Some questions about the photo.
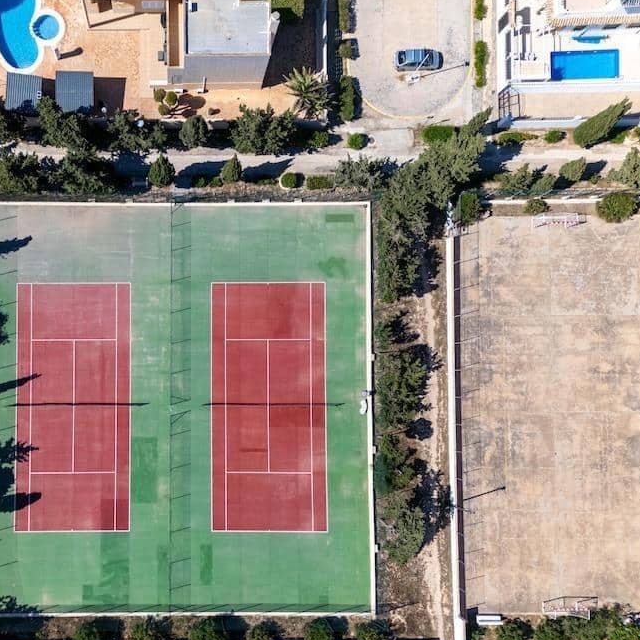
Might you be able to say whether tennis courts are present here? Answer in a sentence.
Yes, the frame does contain a tennis court.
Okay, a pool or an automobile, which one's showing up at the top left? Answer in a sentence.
There is a pool at the top left.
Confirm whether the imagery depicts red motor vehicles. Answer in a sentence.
No, the picture doesn't show any red motor vehicle.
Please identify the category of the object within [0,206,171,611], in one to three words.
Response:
tennis court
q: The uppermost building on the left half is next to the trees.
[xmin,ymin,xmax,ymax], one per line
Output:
[84,0,282,92]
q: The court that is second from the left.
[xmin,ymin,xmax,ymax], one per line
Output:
[171,205,370,611]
